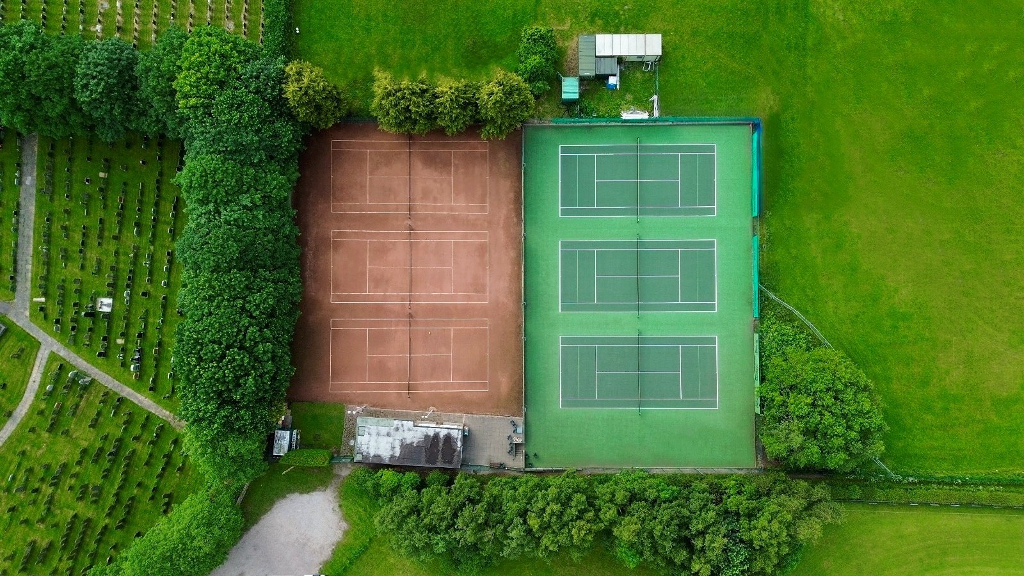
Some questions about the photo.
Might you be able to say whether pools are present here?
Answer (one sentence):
No, there's no pool here.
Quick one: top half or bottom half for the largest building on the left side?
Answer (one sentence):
It is in the bottom half that the largest building on the left side appears.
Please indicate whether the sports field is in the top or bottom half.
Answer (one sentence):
Seen from above, the sports field lies in the bottom half of the view.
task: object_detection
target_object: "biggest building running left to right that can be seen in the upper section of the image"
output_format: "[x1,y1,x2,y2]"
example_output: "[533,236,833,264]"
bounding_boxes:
[595,34,661,61]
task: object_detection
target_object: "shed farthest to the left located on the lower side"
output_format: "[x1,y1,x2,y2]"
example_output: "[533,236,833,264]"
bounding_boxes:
[273,427,294,456]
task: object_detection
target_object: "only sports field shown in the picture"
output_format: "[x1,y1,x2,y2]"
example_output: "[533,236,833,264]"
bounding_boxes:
[807,508,1024,576]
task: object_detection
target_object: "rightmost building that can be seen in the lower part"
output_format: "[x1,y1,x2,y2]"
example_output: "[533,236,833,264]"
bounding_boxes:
[352,415,463,469]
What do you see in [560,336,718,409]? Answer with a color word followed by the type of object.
green tennis court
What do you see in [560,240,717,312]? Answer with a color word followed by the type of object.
green tennis court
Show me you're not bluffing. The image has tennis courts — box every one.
[331,141,488,213]
[330,319,488,392]
[560,336,718,409]
[331,231,489,303]
[560,240,717,312]
[560,144,716,216]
